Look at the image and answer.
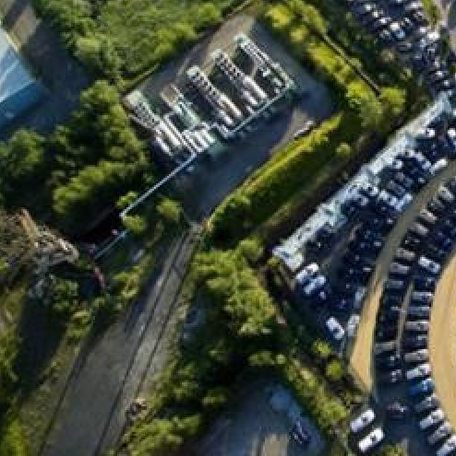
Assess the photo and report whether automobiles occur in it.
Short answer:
Yes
